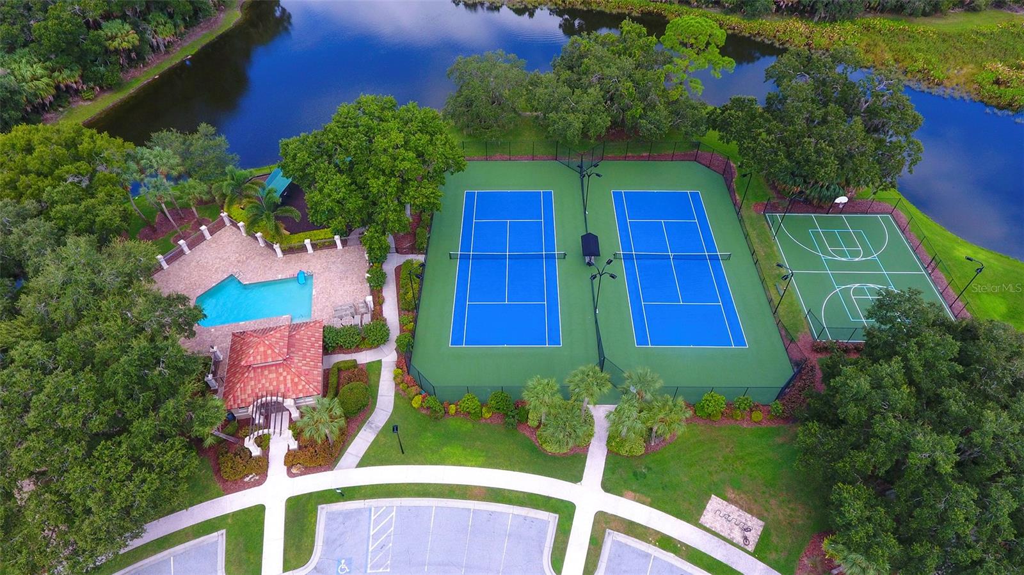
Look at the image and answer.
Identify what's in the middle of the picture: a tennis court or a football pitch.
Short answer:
tennis court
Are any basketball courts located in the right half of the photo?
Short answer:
Yes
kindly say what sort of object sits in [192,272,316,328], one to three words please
swimming pool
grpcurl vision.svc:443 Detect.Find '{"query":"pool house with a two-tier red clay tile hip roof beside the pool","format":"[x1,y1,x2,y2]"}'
[224,317,325,421]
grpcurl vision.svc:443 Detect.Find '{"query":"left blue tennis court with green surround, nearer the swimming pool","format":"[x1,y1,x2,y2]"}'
[409,160,605,403]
